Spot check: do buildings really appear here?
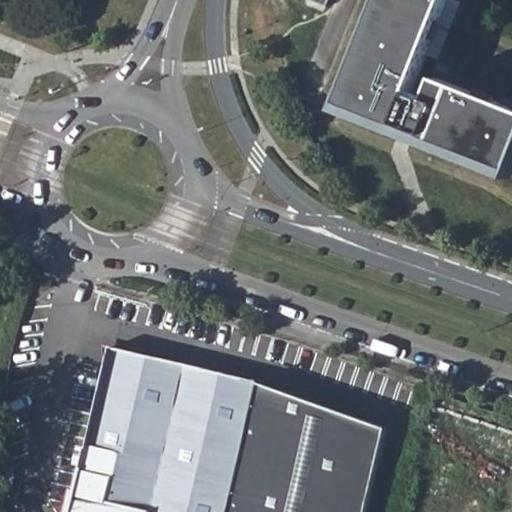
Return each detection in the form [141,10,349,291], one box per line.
[64,346,382,512]
[305,0,326,11]
[325,0,512,176]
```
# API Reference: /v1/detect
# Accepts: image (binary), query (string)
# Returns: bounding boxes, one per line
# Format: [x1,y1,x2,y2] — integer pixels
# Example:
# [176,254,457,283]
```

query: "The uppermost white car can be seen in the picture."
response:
[116,61,134,82]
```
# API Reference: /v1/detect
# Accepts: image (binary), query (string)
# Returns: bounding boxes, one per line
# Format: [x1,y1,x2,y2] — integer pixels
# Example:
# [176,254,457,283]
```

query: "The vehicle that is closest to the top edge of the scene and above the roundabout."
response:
[145,19,160,40]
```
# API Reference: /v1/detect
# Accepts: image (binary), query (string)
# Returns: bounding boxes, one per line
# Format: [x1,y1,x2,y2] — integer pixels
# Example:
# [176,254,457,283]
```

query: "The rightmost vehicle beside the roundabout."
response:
[192,156,212,178]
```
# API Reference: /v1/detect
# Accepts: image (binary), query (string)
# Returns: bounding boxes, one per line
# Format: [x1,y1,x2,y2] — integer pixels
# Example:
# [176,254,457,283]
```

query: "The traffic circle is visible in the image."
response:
[32,94,202,266]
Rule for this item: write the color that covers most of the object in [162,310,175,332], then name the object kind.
white vehicle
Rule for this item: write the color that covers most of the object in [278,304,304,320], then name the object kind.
white vehicle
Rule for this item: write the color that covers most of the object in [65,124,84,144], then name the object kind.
white car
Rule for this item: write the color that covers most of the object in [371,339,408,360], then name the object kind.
white truck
